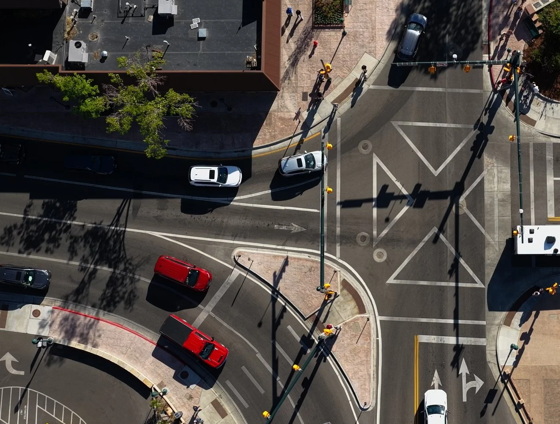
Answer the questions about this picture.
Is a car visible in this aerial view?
Yes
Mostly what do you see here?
paved ground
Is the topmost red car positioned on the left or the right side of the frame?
left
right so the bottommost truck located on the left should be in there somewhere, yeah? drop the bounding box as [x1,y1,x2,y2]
[159,314,231,367]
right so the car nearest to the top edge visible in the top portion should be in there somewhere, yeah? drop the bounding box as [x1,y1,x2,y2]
[396,12,429,61]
